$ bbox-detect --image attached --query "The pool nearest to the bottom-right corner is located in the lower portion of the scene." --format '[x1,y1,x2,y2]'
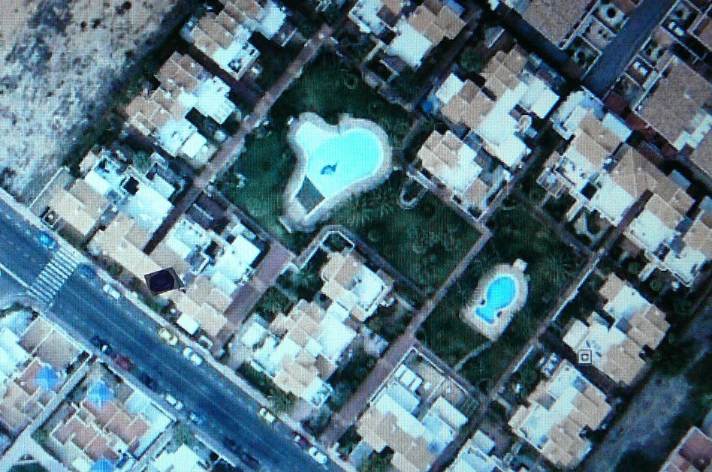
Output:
[461,257,529,342]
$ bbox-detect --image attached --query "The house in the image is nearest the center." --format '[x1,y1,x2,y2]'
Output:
[318,248,396,325]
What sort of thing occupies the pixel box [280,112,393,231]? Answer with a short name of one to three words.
swimming pool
